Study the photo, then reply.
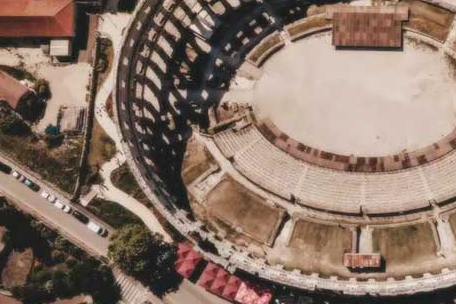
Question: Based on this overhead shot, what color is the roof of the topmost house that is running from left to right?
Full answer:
The color of the roof on the topmost house that is running from left to right is red.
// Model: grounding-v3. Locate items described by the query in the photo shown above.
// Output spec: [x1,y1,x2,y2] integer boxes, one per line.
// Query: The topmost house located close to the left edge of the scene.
[0,0,85,41]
